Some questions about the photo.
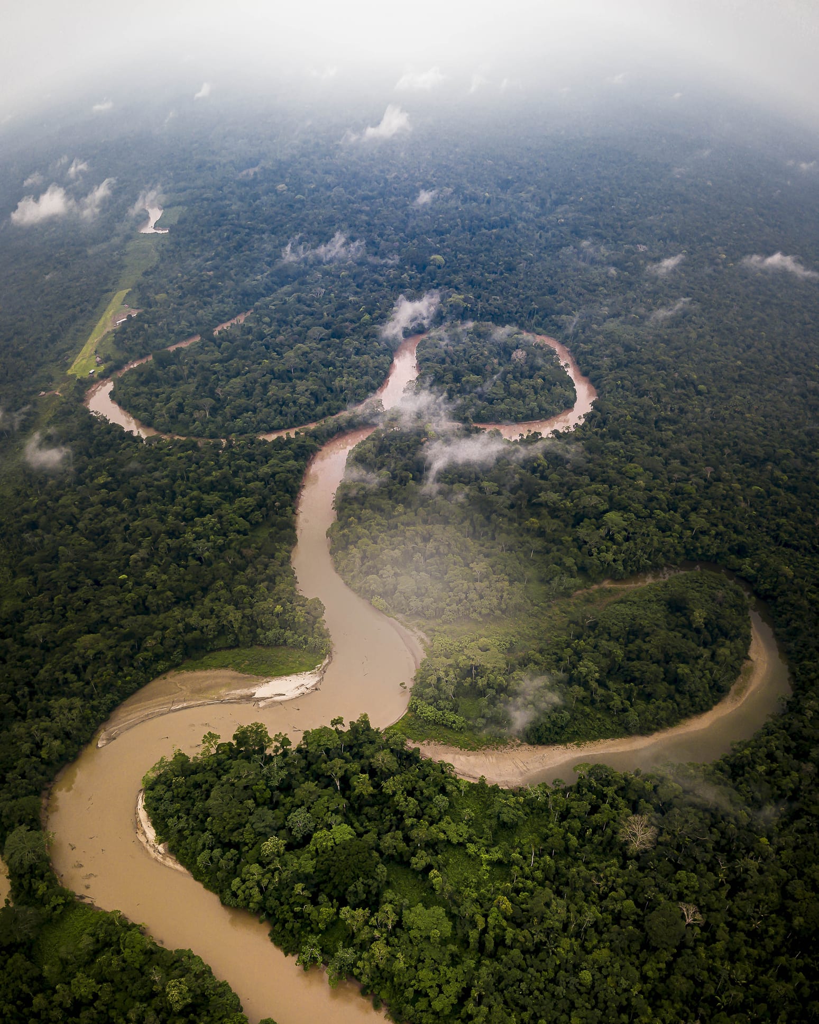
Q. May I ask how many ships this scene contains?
none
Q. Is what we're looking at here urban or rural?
rural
